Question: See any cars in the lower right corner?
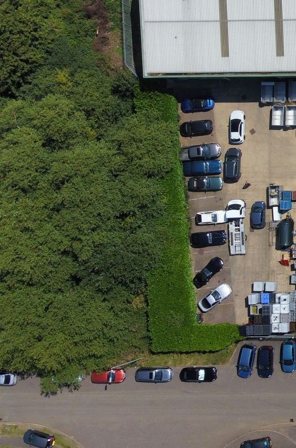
Yes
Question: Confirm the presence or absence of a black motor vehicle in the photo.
Yes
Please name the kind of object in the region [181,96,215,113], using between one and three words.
car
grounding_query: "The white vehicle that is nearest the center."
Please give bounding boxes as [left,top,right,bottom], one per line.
[194,210,229,226]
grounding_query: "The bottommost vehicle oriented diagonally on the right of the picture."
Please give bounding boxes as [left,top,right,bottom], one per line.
[199,282,233,313]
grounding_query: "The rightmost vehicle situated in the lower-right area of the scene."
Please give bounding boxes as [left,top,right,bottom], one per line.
[279,338,296,374]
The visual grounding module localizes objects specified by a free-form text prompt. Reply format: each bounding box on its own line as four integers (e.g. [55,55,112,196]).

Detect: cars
[256,345,275,378]
[49,372,82,391]
[181,120,214,136]
[235,342,258,379]
[92,367,128,385]
[192,231,227,248]
[195,255,226,289]
[182,143,223,160]
[181,96,215,113]
[134,366,175,384]
[228,111,246,145]
[249,200,266,230]
[187,176,224,192]
[279,338,296,374]
[240,433,274,448]
[199,282,233,313]
[194,210,229,226]
[23,427,57,448]
[0,371,21,388]
[224,147,243,183]
[179,366,219,383]
[184,160,223,176]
